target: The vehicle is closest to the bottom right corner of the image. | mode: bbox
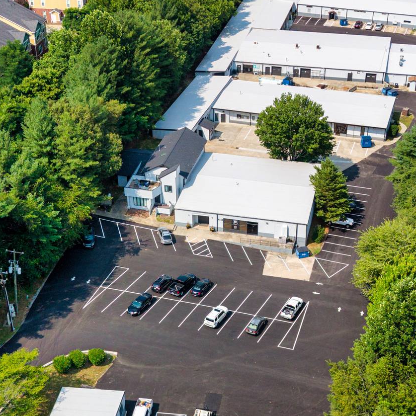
[278,295,305,320]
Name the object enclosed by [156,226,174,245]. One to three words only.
car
